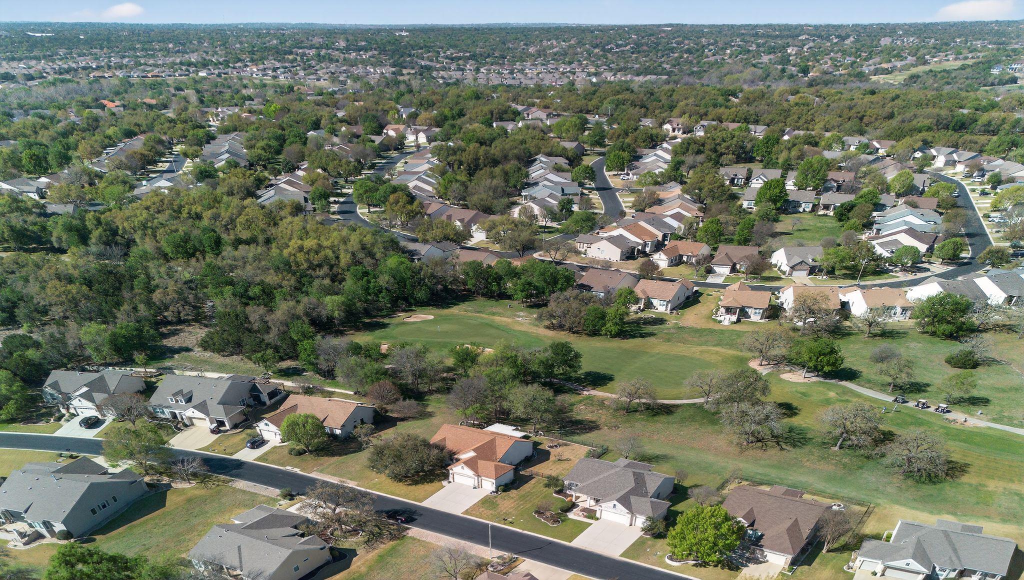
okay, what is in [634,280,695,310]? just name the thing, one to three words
house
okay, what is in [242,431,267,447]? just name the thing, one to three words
car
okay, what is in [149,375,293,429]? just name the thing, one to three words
house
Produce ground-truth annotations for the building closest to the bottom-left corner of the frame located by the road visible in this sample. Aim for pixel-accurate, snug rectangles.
[0,455,153,535]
